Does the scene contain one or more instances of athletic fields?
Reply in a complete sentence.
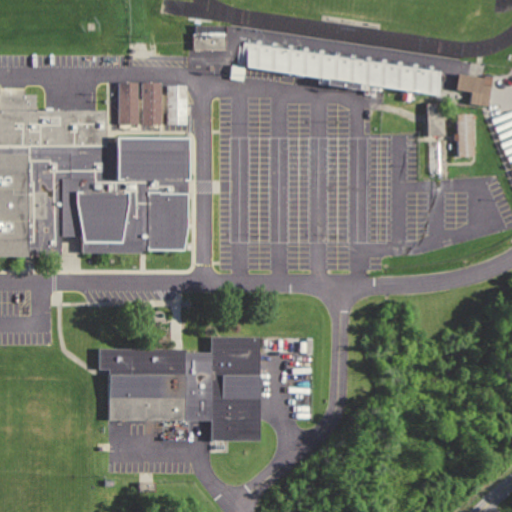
Yes, an athletic field appears in the view.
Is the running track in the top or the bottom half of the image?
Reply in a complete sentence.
Seen from above, the running track lies in the top half of the view.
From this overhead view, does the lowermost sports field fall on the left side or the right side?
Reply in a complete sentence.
It is on the left.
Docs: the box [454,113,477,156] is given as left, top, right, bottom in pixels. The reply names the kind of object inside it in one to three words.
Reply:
shed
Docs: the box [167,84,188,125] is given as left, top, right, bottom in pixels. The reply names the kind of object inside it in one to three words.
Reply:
building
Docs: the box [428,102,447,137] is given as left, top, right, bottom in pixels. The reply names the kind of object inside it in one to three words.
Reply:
building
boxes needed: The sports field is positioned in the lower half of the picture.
[0,345,142,512]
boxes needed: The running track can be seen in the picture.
[161,0,512,58]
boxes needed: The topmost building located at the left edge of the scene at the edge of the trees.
[0,87,190,258]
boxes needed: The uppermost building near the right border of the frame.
[458,74,493,106]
